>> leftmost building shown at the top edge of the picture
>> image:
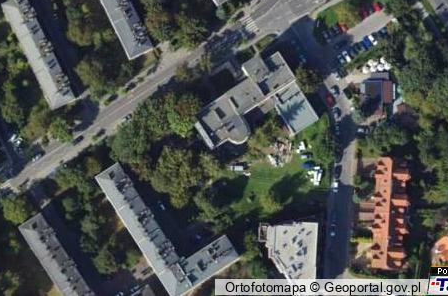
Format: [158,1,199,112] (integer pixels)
[1,0,75,111]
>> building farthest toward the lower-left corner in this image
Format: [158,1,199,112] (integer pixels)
[19,214,90,296]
